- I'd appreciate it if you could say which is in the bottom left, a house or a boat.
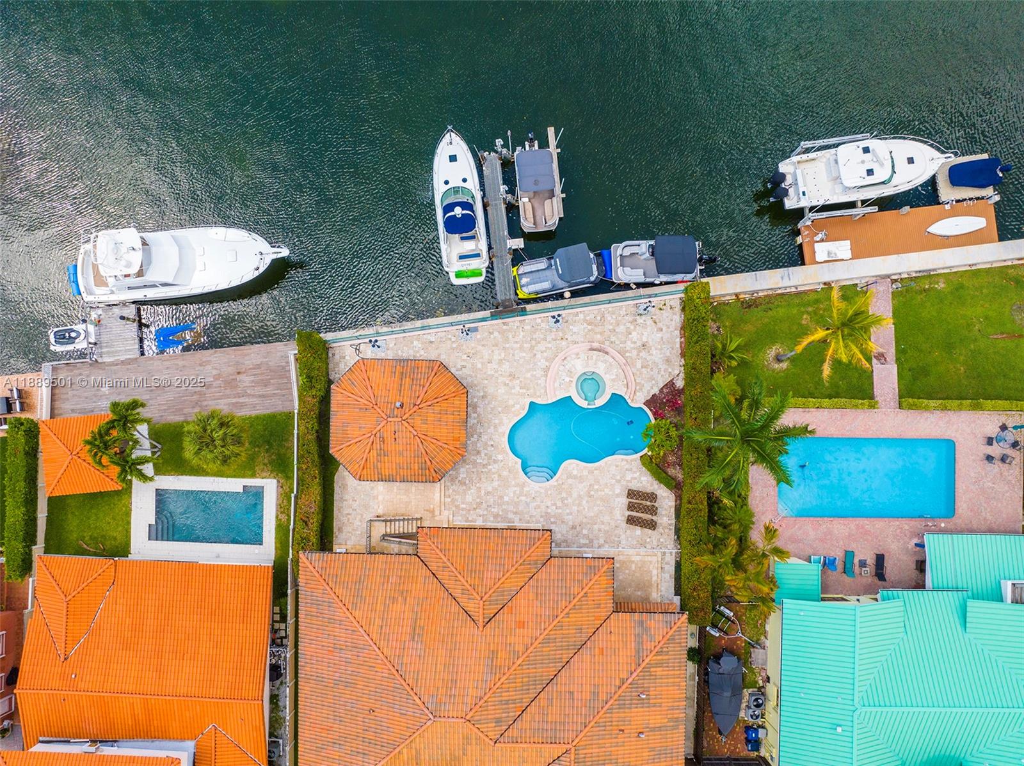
house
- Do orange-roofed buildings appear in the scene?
Yes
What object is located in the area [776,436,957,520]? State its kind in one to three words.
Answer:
swimming pool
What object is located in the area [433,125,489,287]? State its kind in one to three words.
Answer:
boat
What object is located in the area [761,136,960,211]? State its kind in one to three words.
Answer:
boat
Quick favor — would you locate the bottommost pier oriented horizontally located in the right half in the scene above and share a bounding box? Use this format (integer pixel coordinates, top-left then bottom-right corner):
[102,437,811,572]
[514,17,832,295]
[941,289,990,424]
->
[798,195,1000,265]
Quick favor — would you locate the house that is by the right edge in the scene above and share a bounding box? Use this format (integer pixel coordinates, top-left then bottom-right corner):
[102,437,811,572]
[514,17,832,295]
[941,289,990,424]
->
[767,531,1024,766]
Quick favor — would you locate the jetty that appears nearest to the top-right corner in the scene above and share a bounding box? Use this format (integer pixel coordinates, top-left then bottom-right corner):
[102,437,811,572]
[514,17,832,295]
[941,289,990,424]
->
[935,152,993,203]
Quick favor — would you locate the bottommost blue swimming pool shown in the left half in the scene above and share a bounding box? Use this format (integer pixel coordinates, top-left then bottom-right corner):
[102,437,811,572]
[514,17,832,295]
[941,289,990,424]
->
[142,480,270,551]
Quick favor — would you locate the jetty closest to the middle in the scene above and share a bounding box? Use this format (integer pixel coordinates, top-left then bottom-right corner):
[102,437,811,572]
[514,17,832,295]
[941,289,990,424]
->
[479,153,518,309]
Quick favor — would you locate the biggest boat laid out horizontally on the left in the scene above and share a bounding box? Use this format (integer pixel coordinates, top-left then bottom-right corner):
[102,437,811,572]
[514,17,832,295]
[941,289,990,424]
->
[74,225,289,303]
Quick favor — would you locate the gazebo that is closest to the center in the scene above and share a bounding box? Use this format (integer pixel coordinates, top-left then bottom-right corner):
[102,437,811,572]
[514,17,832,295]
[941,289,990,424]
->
[328,357,469,484]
